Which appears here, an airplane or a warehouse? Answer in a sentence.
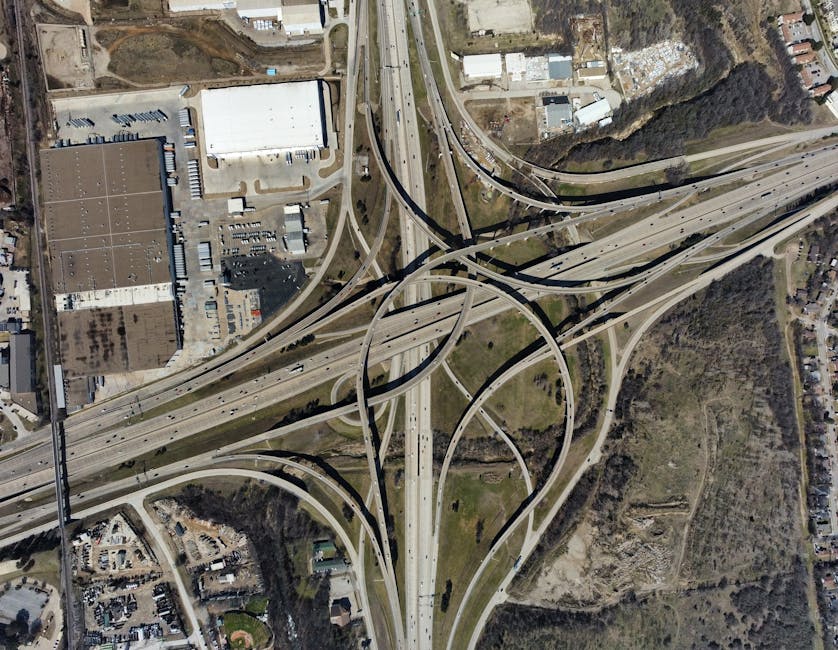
There is a warehouse in the scene.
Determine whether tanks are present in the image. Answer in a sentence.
No, the picture doesn't show any tank.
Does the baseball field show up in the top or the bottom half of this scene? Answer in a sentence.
The baseball field sits in the bottom half of the picture.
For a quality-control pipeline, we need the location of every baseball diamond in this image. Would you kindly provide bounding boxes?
[221,612,273,650]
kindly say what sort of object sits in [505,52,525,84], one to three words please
building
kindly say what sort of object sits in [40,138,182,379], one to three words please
warehouse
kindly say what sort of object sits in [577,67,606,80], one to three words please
shed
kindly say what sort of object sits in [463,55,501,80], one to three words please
building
